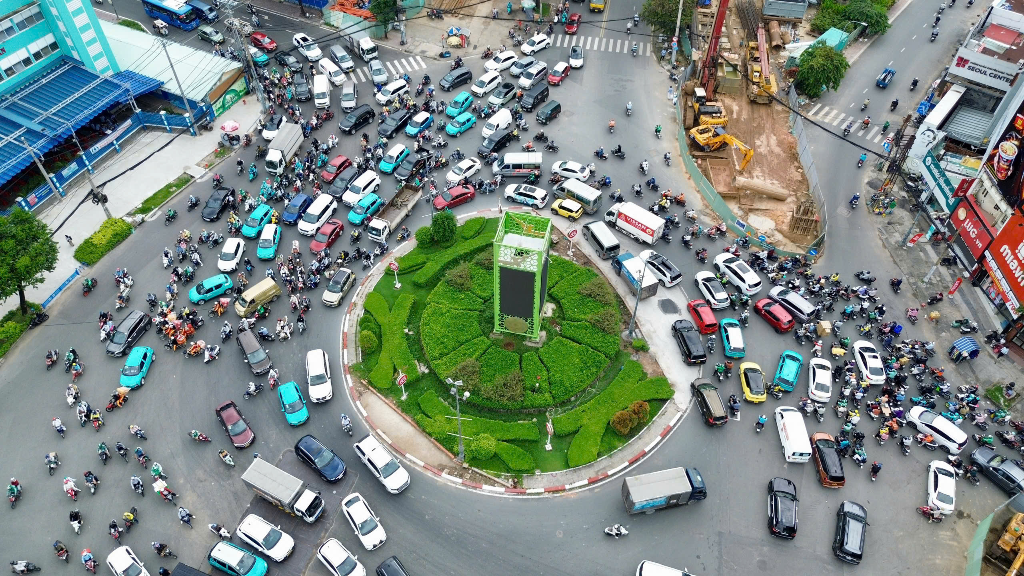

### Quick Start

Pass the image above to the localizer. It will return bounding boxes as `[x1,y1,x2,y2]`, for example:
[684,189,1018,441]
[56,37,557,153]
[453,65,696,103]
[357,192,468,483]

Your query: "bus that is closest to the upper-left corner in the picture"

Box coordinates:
[160,1,195,32]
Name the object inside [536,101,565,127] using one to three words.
vehicle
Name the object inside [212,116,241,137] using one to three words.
umbrella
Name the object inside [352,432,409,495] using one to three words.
truck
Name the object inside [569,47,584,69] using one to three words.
car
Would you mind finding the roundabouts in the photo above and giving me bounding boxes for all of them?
[344,206,700,494]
